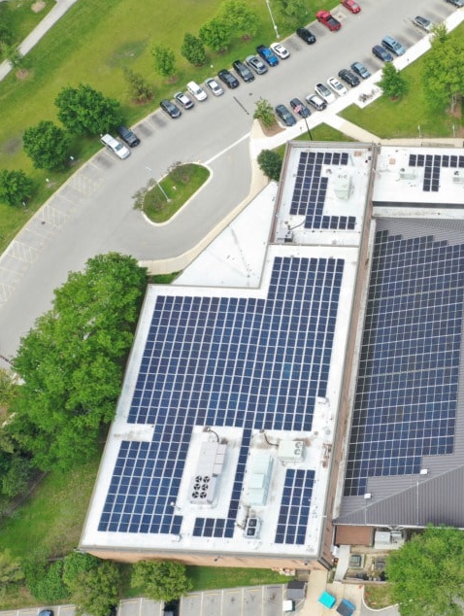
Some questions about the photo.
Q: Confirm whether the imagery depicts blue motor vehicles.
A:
Yes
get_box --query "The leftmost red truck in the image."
[315,9,342,34]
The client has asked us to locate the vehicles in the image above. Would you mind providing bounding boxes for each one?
[245,54,267,76]
[217,69,241,90]
[370,43,394,64]
[410,11,435,34]
[268,41,291,61]
[288,96,311,119]
[294,24,318,47]
[336,66,362,89]
[315,9,342,34]
[253,43,281,69]
[116,124,141,149]
[98,603,118,616]
[312,82,336,105]
[158,97,182,120]
[348,60,373,81]
[380,33,407,57]
[161,596,181,616]
[183,77,209,104]
[101,132,128,159]
[229,57,257,83]
[304,91,329,114]
[325,76,348,97]
[275,105,297,127]
[340,0,362,15]
[201,76,225,97]
[173,90,195,111]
